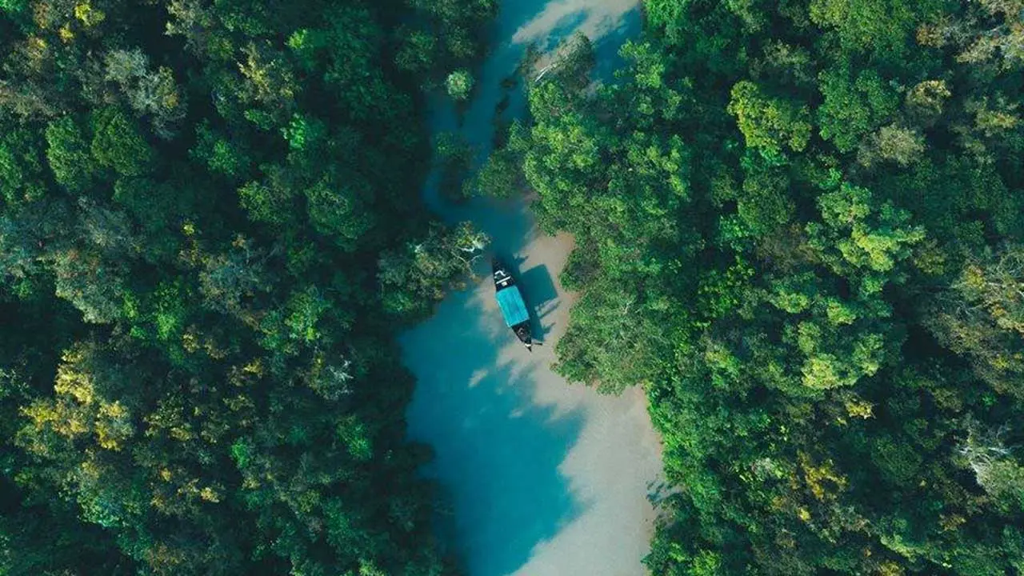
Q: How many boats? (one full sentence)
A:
The count comes to 1 boat.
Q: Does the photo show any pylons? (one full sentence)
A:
No, the scene contains no pylon.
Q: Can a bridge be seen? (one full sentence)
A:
No, there isn't any bridge down there.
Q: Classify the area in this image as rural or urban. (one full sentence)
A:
The area shown here is rural.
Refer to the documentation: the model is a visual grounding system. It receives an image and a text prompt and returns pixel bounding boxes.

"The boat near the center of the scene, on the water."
[493,261,543,352]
